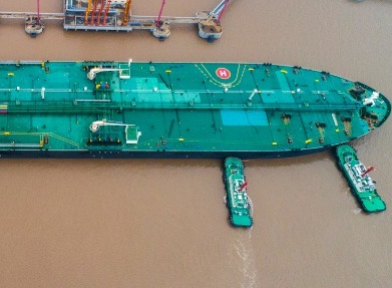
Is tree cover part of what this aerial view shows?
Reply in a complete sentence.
No, there's no tree cover in this view.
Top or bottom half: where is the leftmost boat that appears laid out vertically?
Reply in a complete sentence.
The leftmost boat that appears laid out vertically is in the bottom half of the image.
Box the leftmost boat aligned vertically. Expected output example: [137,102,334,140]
[223,155,254,229]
